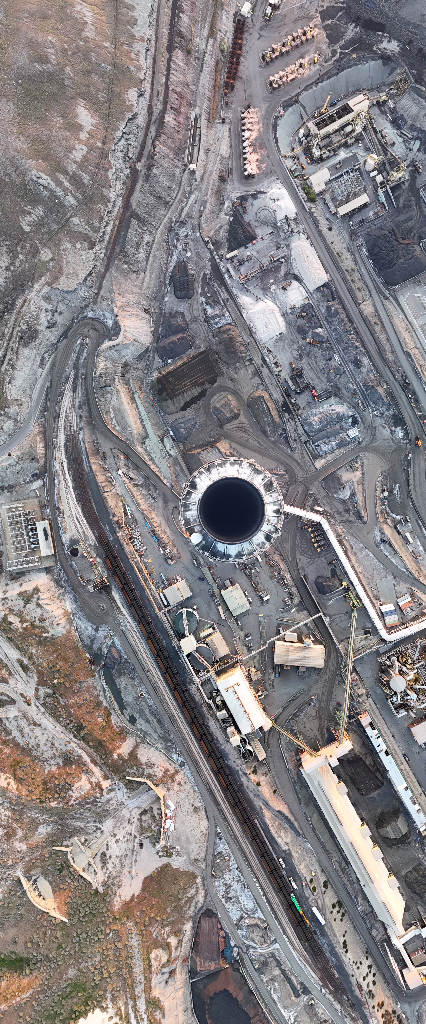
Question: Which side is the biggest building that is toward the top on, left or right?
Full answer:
The biggest building that is toward the top sits on the right side.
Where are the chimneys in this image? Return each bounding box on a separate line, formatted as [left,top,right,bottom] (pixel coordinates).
[179,457,285,563]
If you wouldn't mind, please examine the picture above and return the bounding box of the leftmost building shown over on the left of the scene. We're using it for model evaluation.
[36,520,56,556]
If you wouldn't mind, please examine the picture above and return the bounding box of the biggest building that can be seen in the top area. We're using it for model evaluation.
[305,94,370,144]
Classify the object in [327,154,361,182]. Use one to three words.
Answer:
building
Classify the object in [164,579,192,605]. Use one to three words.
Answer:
building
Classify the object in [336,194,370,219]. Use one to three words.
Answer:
shed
